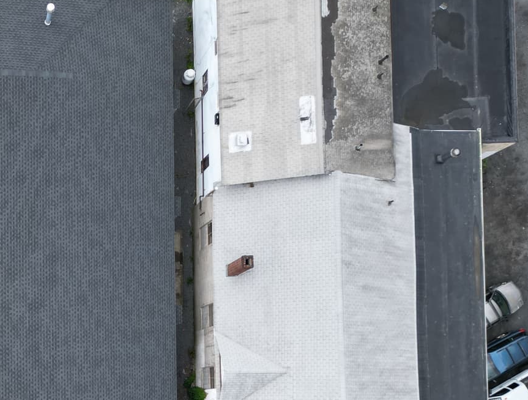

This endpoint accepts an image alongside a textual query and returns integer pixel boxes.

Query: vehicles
[489,330,528,392]
[489,368,528,400]
[487,279,527,331]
